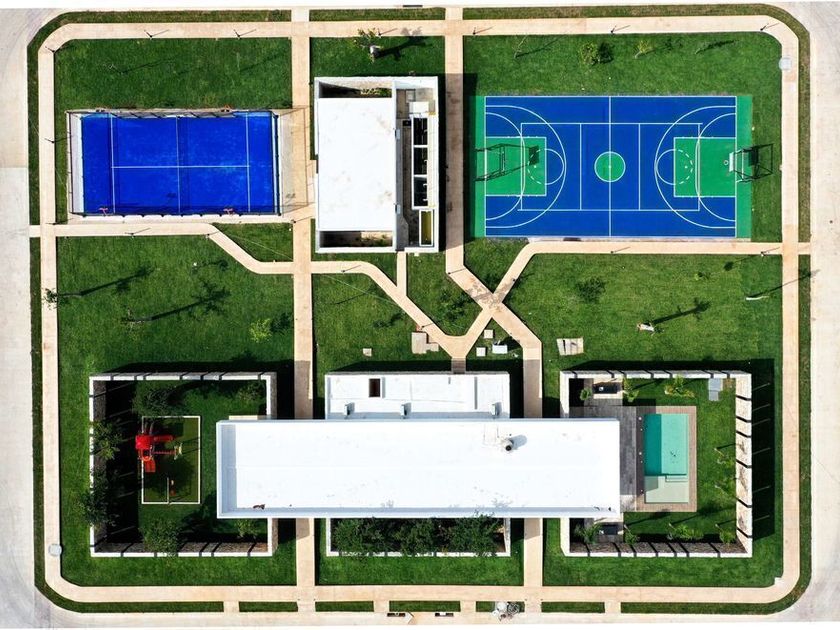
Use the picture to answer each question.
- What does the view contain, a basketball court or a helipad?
basketball court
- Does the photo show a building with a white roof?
Yes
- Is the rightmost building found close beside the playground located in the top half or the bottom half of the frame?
bottom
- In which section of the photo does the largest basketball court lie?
top right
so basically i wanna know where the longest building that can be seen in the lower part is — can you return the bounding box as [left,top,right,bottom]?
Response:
[217,372,620,518]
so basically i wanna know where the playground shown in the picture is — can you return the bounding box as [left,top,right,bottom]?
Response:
[140,416,201,505]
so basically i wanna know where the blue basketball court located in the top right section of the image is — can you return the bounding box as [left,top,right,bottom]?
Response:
[474,96,751,237]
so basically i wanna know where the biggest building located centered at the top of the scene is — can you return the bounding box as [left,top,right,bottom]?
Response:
[315,77,438,253]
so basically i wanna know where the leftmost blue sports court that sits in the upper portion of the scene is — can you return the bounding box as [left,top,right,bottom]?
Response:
[66,110,281,222]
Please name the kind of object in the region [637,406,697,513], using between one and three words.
swimming pool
